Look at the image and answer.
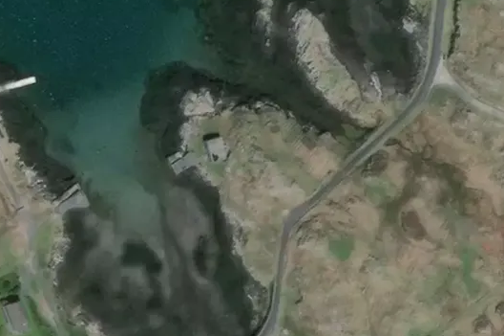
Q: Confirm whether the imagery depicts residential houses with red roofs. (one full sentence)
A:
No, there isn't any residential house with a red roof down there.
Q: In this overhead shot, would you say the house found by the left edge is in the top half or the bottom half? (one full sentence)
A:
The house found by the left edge sits in the bottom half of the picture.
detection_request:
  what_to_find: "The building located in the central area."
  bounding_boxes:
[206,139,231,165]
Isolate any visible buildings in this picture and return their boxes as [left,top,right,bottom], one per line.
[206,139,231,165]
[1,302,28,335]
